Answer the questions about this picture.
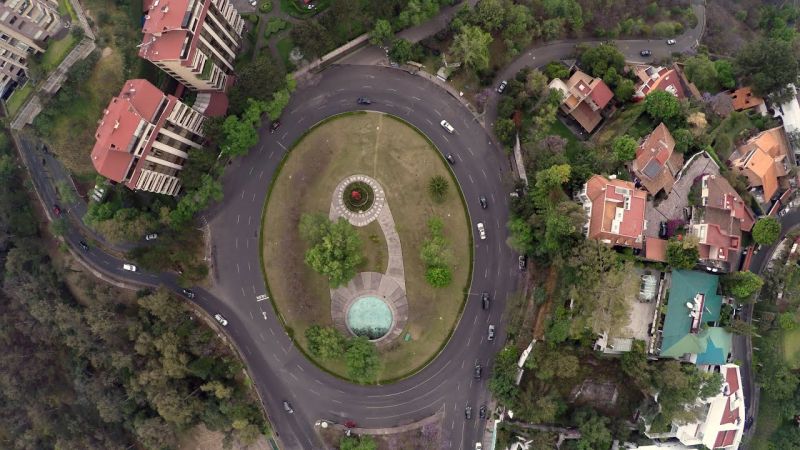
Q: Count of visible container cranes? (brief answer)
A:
none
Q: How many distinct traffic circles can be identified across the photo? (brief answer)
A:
one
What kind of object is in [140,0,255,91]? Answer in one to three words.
building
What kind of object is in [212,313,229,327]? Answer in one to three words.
vehicle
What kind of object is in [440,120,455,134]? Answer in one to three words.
vehicle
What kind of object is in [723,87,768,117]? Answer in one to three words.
house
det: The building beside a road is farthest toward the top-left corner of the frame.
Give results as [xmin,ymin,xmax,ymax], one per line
[0,0,61,96]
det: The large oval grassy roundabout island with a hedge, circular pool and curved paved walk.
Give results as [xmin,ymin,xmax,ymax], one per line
[259,109,474,384]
